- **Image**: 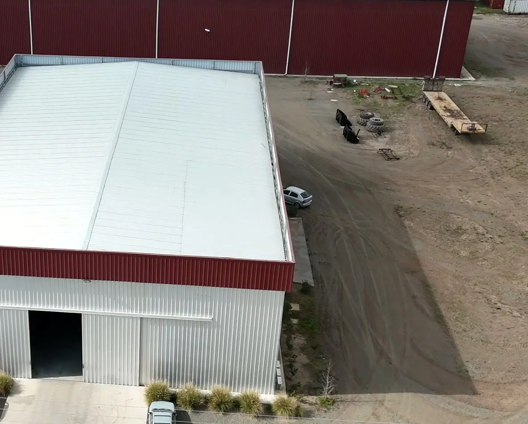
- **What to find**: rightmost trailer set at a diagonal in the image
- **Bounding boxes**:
[423,72,492,135]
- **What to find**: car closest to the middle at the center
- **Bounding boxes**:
[283,184,313,207]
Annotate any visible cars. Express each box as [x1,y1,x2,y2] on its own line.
[147,403,179,424]
[283,184,313,207]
